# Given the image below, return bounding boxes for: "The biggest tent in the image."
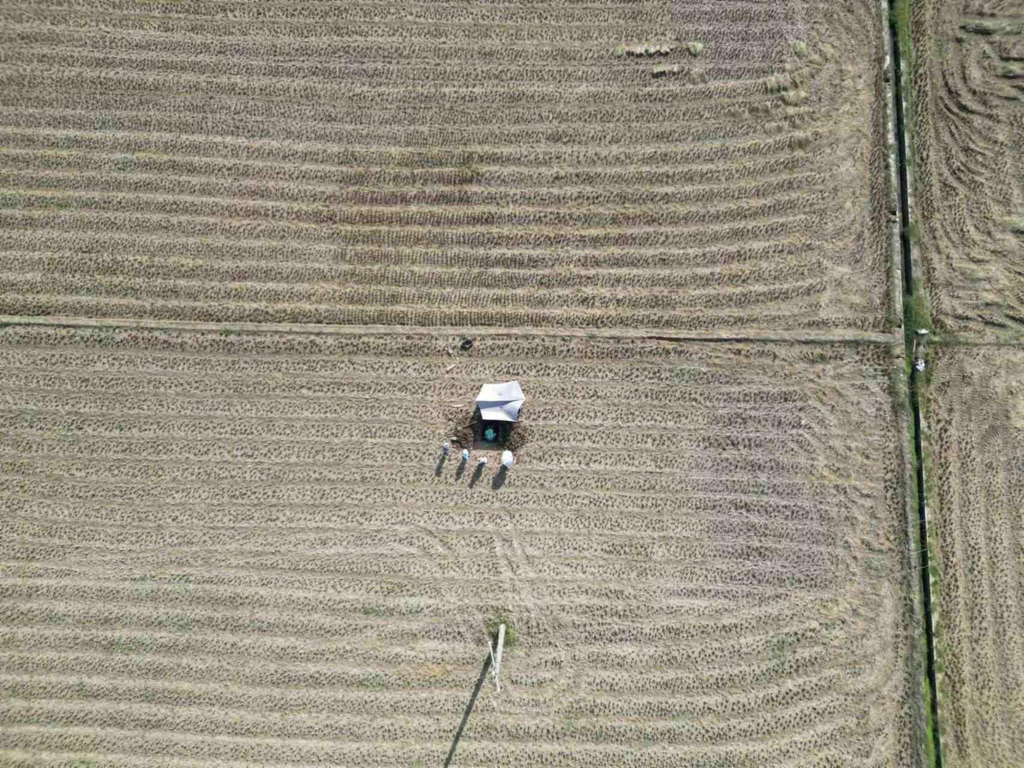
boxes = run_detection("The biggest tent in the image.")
[475,380,526,421]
